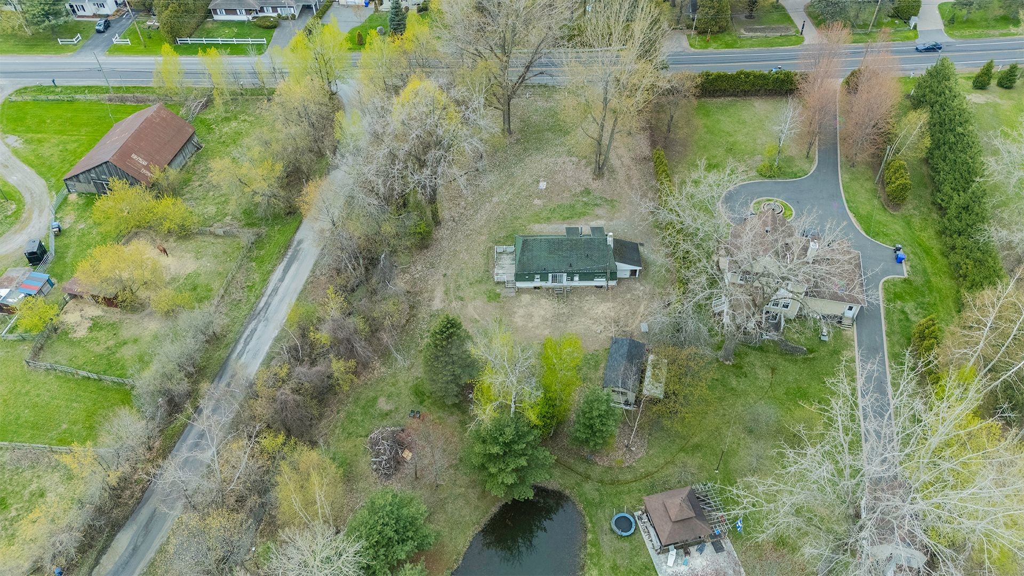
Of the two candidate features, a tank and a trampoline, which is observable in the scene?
trampoline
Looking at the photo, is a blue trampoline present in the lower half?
Yes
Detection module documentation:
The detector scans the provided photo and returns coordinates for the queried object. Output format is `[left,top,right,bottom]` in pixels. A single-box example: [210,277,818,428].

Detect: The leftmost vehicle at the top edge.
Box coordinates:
[89,18,115,34]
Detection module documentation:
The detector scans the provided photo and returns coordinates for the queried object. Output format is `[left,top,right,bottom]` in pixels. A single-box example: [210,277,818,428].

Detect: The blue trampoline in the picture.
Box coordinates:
[611,505,637,535]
